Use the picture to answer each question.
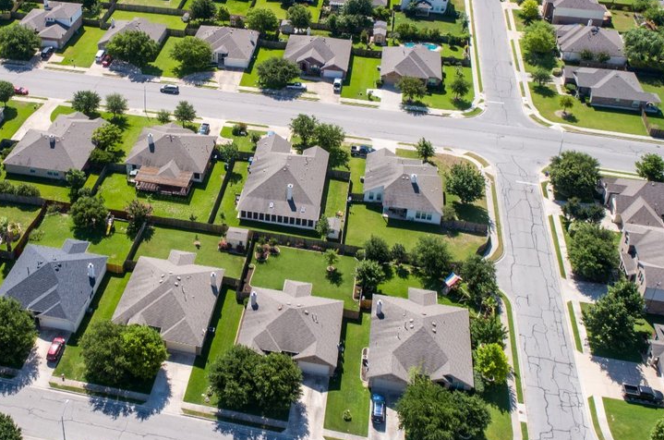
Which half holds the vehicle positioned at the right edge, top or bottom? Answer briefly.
bottom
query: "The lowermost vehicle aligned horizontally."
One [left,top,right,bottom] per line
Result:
[622,383,664,404]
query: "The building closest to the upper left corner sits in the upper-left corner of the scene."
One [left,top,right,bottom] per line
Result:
[18,0,83,47]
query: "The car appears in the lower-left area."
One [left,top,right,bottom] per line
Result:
[47,336,66,361]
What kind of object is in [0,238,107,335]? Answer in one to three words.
house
